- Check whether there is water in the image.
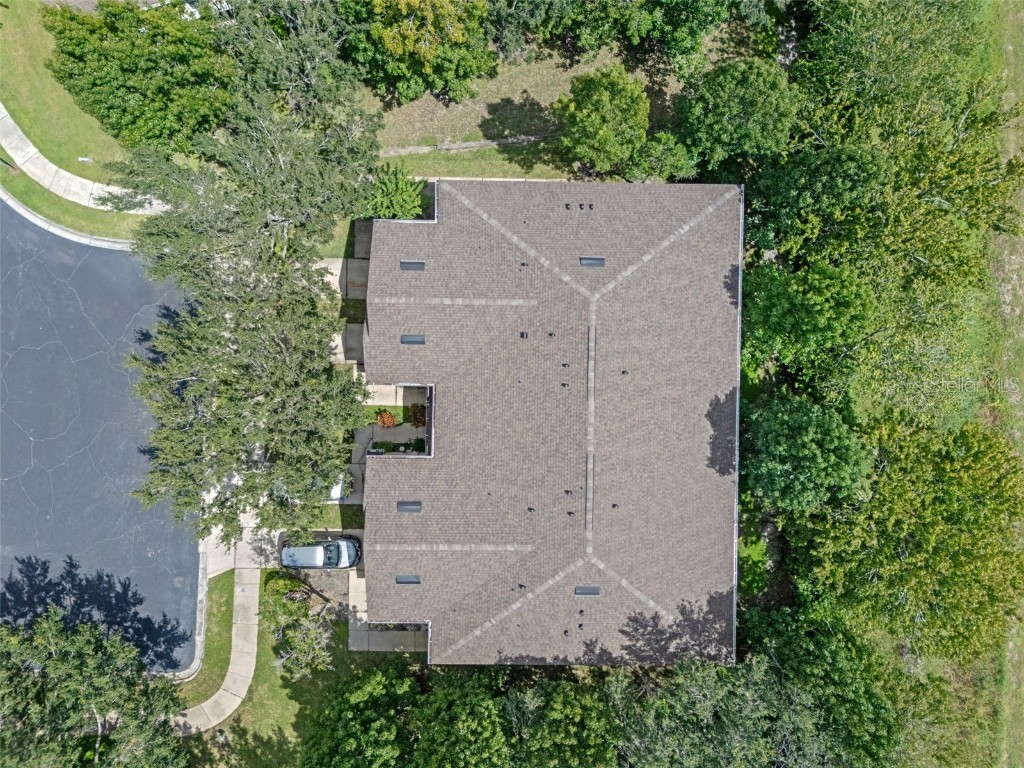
No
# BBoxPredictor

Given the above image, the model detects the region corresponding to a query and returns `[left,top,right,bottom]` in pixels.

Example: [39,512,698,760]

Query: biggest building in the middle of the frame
[361,180,745,666]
